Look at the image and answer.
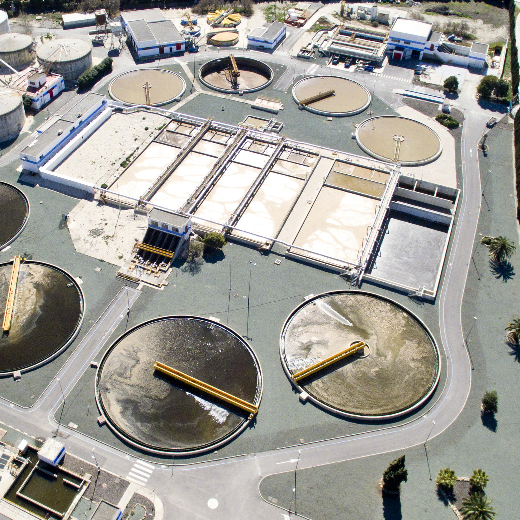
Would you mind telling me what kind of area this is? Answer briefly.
industrial area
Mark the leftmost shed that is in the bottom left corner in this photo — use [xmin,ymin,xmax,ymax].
[38,437,68,469]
